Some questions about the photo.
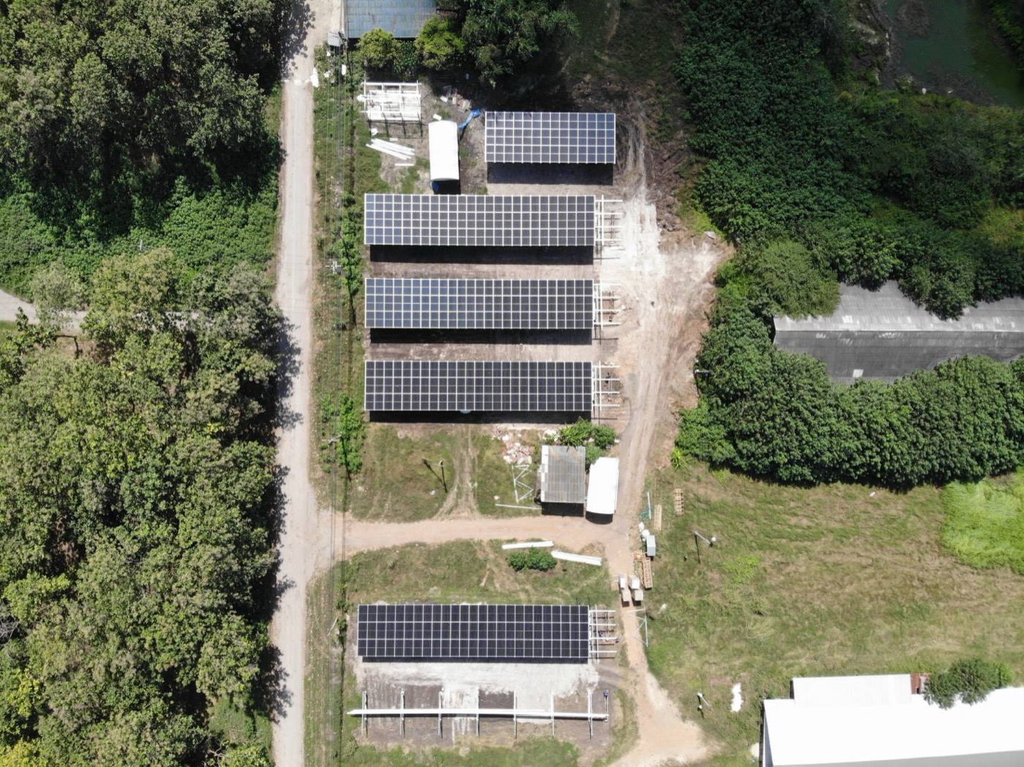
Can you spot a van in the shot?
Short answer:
No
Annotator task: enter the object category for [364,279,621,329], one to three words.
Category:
solar array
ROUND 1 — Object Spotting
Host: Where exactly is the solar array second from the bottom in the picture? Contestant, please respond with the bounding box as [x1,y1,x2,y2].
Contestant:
[364,361,620,411]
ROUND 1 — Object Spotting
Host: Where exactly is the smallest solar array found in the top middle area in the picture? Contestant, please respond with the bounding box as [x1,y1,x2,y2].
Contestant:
[485,112,615,164]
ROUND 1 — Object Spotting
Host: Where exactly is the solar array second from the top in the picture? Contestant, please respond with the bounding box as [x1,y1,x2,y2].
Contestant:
[363,194,623,246]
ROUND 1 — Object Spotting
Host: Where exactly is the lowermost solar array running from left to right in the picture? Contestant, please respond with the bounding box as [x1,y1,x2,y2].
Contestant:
[357,604,618,657]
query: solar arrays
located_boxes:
[357,604,618,657]
[364,361,620,411]
[363,194,623,246]
[364,279,621,329]
[485,112,615,164]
